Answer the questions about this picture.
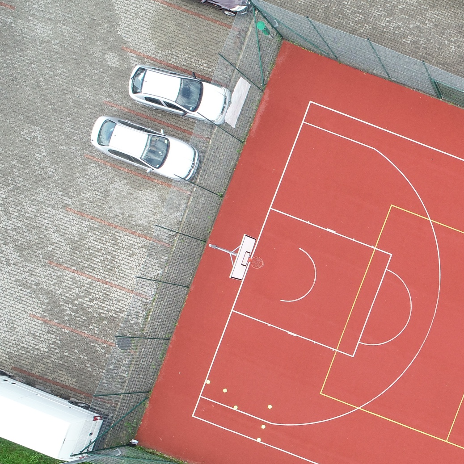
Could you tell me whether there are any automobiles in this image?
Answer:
Yes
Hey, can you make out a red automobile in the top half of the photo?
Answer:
No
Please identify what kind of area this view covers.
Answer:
sports ground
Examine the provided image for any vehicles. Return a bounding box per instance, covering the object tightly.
[198,0,253,19]
[0,374,109,460]
[127,66,229,126]
[88,112,199,182]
